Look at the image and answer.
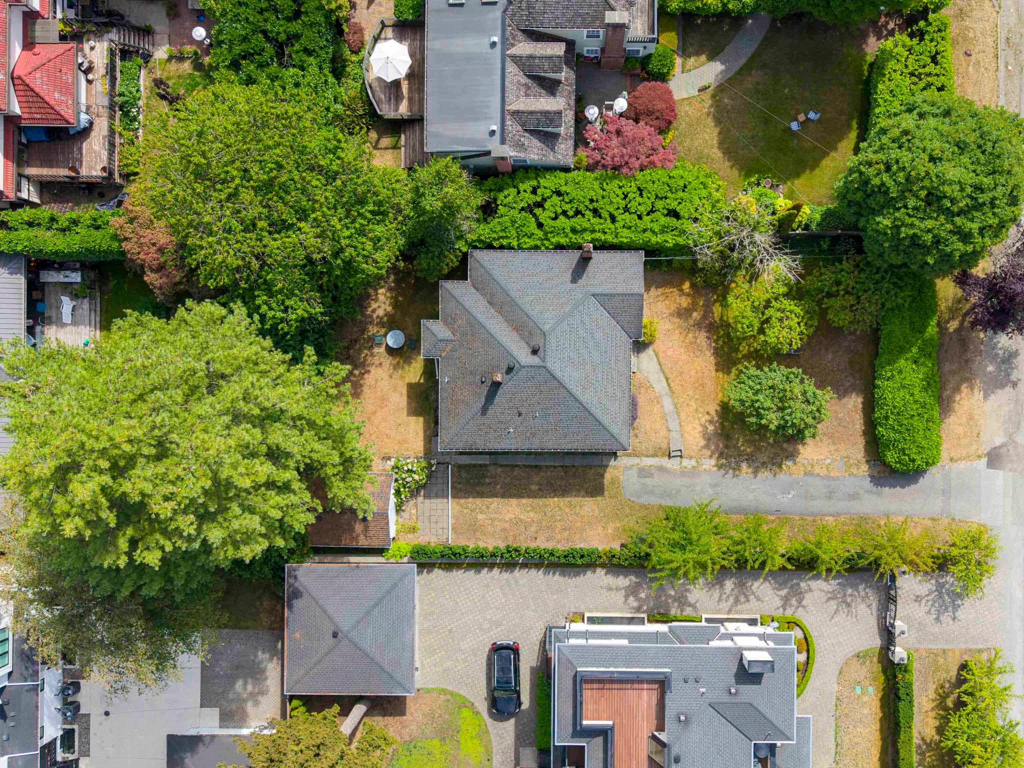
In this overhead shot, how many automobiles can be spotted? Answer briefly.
one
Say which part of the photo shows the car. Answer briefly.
bottom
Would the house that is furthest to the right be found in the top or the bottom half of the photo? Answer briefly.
bottom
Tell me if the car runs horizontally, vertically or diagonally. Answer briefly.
vertically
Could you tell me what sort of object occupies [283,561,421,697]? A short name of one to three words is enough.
building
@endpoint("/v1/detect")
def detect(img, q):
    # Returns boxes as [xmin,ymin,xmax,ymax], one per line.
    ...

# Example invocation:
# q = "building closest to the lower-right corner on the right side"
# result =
[546,613,815,768]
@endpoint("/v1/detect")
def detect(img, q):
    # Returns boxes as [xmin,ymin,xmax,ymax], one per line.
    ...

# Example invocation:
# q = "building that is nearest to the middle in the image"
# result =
[419,241,647,453]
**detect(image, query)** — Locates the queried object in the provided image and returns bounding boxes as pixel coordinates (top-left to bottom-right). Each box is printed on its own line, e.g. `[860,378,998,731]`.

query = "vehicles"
[488,640,522,713]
